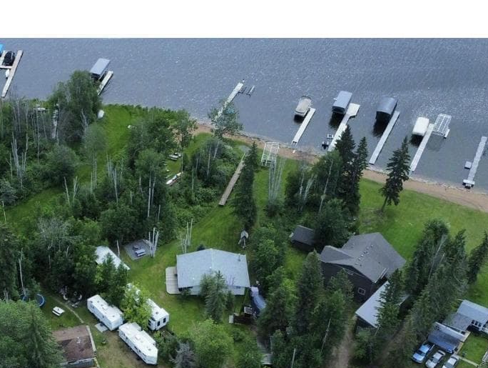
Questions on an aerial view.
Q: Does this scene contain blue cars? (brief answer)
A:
Yes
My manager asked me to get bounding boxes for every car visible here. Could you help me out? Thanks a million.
[413,339,435,361]
[441,354,460,368]
[426,348,447,368]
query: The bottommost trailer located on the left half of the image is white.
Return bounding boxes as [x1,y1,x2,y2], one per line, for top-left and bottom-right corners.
[119,322,158,365]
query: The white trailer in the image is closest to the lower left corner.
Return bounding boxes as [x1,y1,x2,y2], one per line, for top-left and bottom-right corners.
[88,297,123,332]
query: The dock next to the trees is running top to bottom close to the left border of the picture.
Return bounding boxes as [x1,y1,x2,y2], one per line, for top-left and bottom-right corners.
[0,50,25,98]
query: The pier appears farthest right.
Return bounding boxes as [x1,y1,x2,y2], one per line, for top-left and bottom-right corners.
[462,137,488,188]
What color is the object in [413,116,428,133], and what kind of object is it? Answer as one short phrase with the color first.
white boat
